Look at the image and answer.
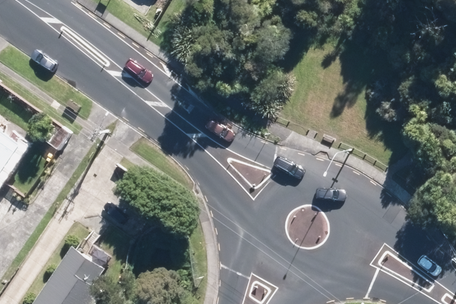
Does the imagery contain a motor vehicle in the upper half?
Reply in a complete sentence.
Yes, a motor vehicle is visible in the upper half.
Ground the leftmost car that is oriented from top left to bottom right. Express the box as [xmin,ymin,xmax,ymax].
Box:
[32,48,60,74]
